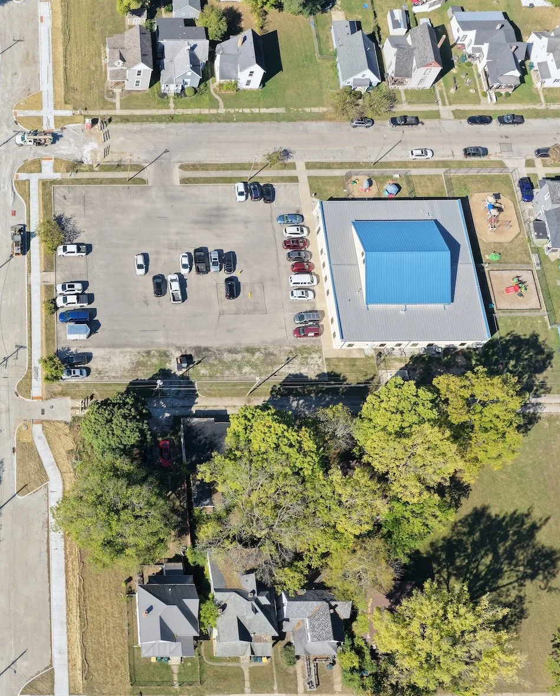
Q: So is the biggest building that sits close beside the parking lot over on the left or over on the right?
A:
right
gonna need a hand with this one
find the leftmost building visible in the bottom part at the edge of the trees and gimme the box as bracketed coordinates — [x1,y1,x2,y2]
[136,563,201,657]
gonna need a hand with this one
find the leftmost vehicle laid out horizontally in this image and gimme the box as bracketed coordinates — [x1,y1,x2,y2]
[13,132,53,147]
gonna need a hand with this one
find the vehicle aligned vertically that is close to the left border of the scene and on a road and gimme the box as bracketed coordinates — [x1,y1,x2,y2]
[12,226,24,254]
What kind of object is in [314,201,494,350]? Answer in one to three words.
building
